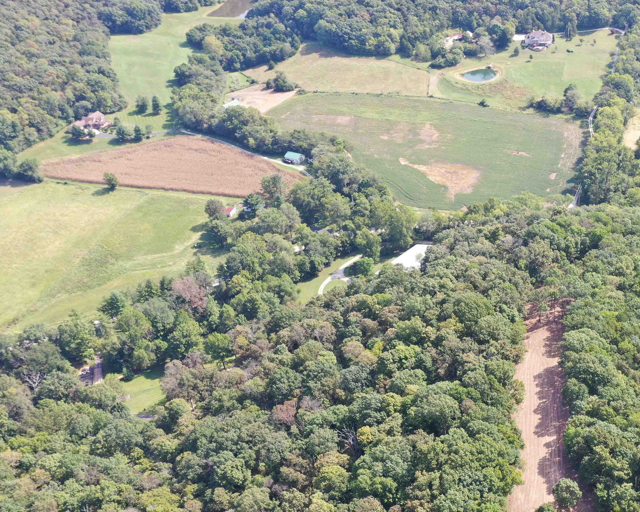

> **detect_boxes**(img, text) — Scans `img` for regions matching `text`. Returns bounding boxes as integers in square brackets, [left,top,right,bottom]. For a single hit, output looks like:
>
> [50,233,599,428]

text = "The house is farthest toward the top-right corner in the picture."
[522,25,550,47]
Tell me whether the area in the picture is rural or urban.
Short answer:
rural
